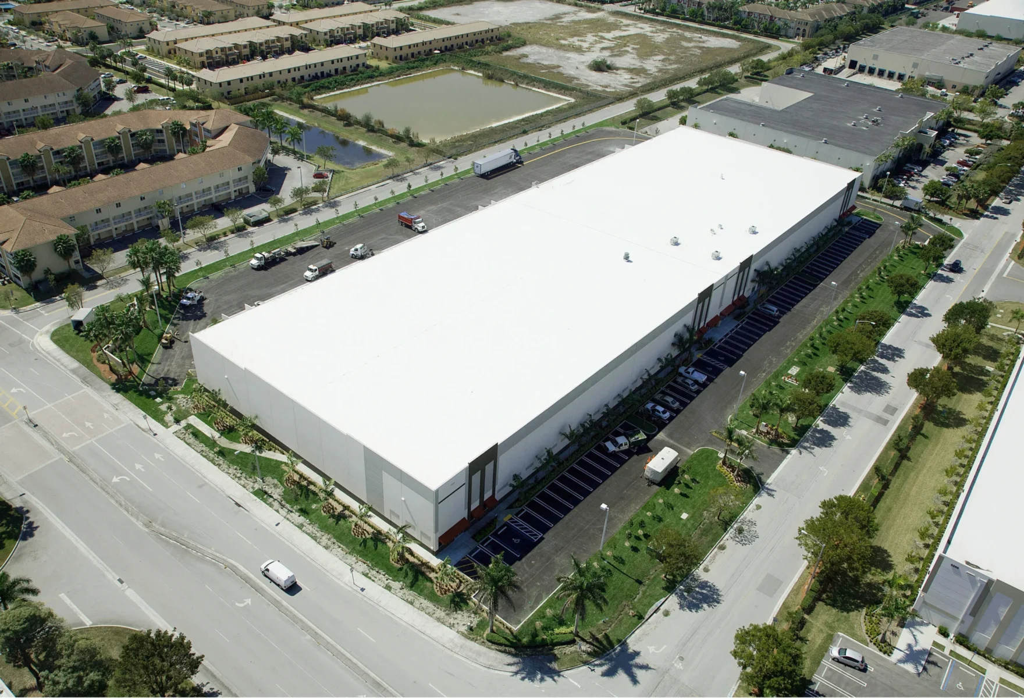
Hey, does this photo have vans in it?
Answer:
Yes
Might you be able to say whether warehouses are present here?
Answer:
Yes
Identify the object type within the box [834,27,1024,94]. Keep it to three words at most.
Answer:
building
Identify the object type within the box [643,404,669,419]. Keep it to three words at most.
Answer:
car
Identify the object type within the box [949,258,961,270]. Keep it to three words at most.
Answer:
vehicle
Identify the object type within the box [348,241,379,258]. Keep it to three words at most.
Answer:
vehicle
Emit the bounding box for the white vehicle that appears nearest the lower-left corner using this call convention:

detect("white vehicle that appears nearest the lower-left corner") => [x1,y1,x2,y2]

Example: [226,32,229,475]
[263,558,302,589]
